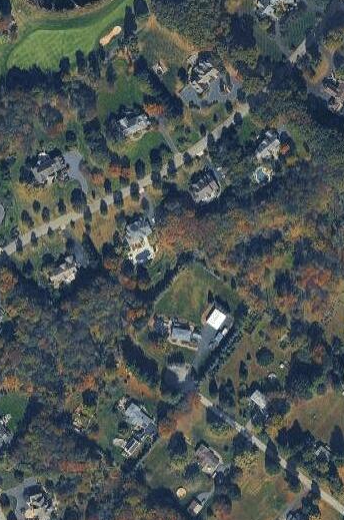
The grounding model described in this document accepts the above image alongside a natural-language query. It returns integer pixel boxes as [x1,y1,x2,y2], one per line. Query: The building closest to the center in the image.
[124,217,155,245]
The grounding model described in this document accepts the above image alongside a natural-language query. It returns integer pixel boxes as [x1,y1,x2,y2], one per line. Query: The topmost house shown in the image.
[262,0,296,19]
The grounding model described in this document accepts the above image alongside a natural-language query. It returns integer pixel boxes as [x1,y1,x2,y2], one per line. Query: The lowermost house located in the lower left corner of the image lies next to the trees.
[28,493,52,520]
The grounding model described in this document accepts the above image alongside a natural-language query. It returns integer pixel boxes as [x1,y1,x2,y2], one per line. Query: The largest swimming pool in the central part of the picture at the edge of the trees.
[127,241,156,265]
